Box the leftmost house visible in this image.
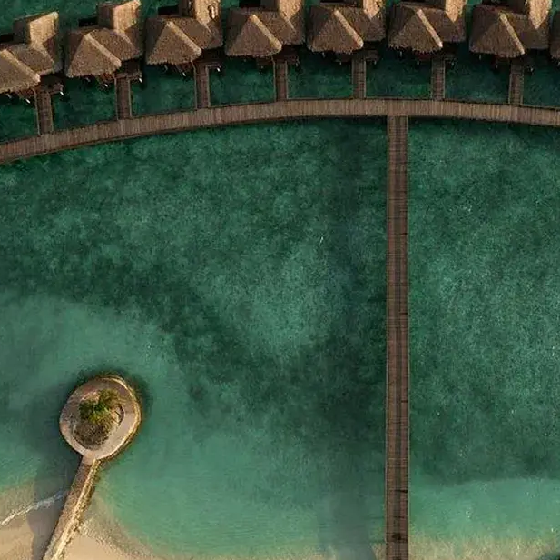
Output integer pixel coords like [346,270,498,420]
[0,11,72,111]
